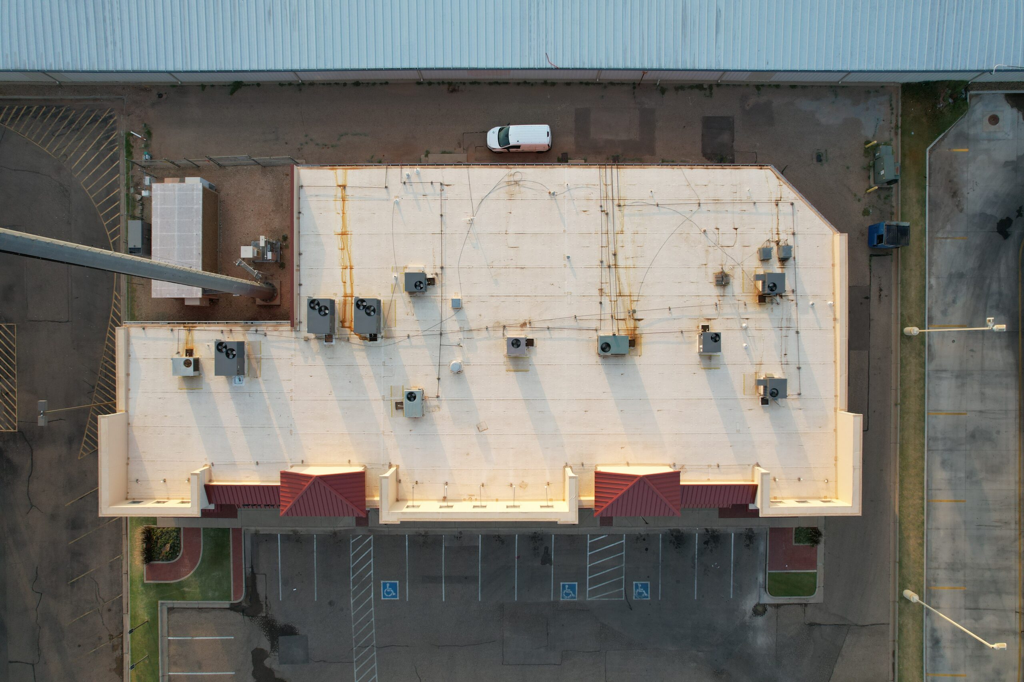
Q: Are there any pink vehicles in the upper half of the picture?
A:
No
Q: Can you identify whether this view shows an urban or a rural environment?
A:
urban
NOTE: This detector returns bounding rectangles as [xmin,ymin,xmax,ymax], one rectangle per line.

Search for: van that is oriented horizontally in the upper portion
[487,124,553,154]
